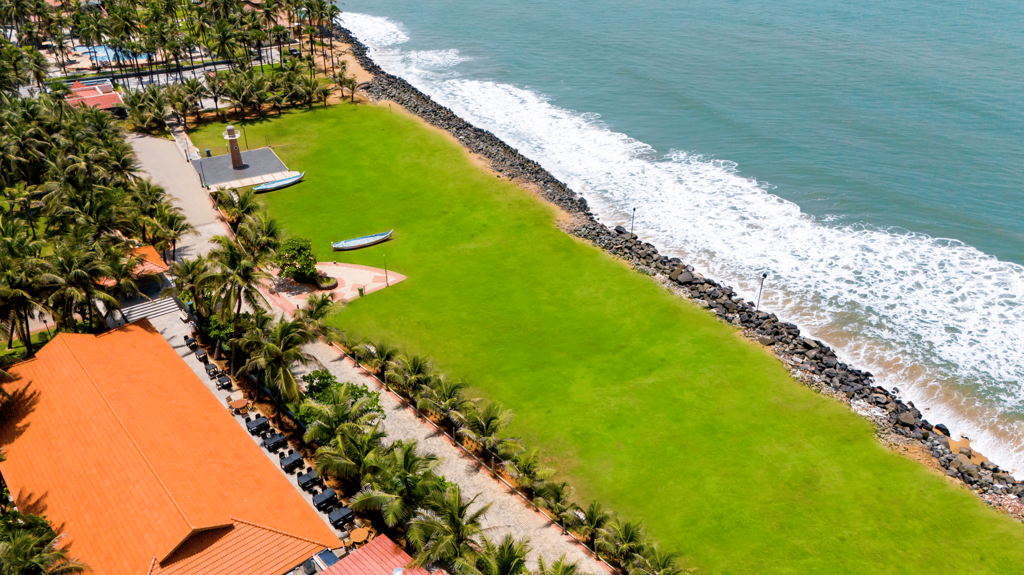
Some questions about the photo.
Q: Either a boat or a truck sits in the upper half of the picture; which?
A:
boat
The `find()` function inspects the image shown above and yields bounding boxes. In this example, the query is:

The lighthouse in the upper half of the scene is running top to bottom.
[222,119,244,167]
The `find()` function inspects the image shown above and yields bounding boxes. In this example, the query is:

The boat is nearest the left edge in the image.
[253,170,303,190]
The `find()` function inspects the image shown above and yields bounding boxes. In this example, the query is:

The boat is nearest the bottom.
[332,227,392,249]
